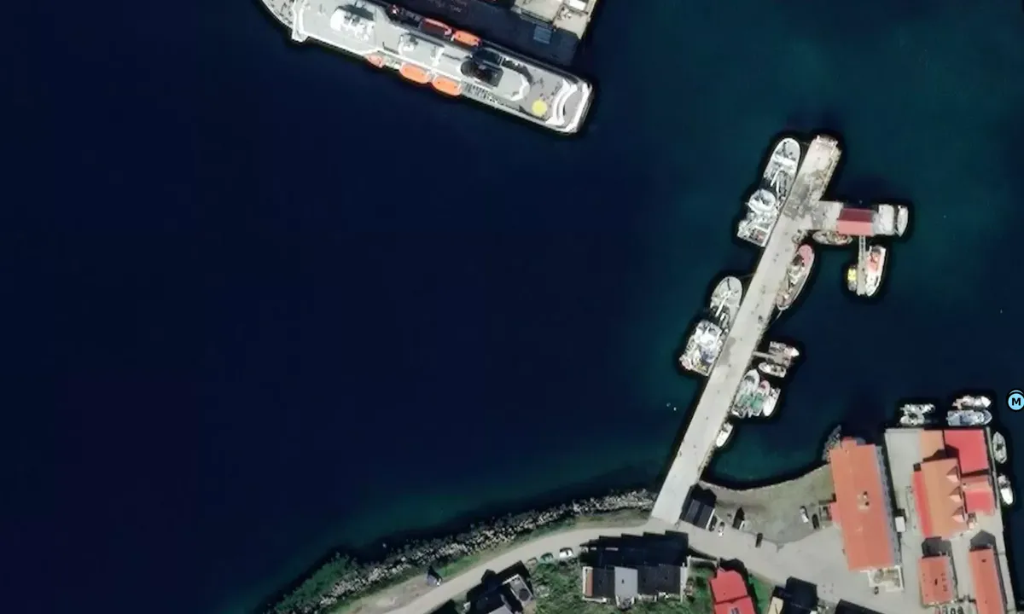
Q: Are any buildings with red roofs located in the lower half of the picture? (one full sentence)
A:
Yes, I can see a building with a red roof in the lower half of the picture.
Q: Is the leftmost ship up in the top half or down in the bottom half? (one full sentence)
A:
The top half of the photo is where the leftmost ship is.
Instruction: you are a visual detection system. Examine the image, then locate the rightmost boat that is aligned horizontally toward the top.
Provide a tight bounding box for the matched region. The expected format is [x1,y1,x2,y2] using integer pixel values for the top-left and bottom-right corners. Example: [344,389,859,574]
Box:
[812,232,853,247]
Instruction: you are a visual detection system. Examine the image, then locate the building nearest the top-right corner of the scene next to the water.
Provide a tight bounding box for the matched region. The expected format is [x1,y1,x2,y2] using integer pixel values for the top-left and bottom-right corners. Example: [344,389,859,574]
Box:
[838,209,875,237]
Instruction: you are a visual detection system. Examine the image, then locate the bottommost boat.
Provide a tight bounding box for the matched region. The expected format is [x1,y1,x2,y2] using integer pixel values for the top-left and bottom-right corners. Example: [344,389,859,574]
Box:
[997,475,1011,505]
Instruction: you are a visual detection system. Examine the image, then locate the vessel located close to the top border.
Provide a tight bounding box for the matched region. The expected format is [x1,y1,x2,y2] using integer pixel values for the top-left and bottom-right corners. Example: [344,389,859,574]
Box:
[267,0,595,133]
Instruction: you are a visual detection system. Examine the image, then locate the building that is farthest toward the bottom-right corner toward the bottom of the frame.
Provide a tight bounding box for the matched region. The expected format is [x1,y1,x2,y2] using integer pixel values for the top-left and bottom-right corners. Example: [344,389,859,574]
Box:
[970,549,1006,614]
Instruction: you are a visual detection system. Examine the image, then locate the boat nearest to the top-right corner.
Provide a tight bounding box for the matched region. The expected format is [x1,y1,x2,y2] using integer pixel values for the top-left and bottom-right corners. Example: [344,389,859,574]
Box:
[896,205,909,236]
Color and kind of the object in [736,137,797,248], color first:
white vessel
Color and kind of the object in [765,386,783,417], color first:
white boat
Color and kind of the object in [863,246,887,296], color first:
white boat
